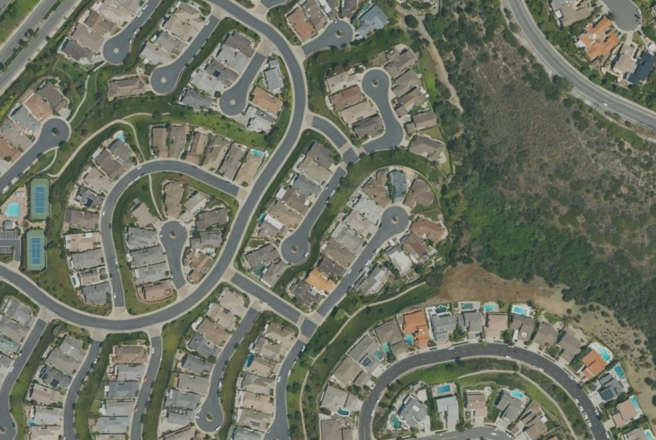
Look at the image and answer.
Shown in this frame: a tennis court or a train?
tennis court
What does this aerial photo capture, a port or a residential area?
residential area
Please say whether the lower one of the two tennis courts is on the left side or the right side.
left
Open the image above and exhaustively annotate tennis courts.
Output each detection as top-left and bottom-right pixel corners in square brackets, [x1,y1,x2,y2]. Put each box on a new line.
[30,179,50,220]
[26,230,46,271]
